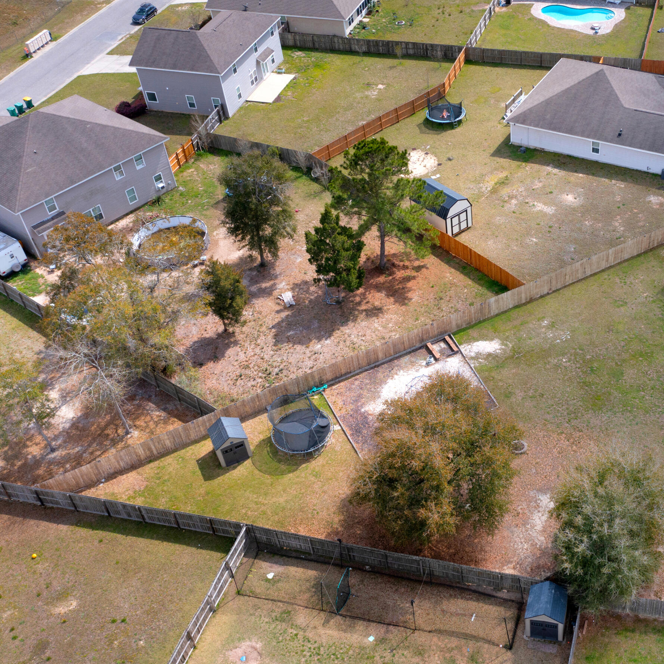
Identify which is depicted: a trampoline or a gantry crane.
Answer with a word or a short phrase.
trampoline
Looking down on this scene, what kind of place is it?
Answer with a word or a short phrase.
residential area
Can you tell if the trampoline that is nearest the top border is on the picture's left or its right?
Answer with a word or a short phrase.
right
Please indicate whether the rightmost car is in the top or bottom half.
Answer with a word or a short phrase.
top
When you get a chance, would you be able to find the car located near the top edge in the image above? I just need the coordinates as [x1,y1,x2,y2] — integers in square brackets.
[131,3,158,23]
